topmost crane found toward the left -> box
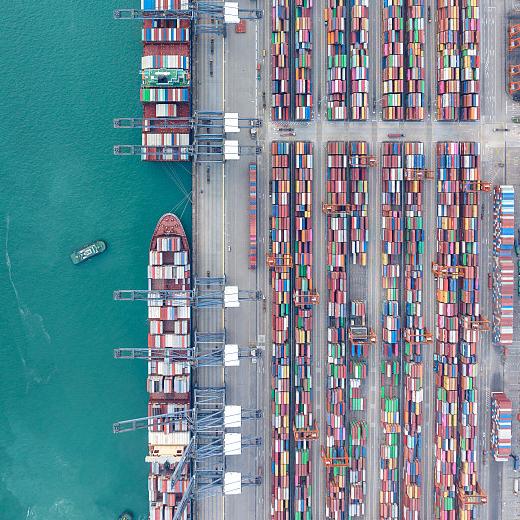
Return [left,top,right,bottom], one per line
[113,2,260,41]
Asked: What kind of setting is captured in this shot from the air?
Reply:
port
